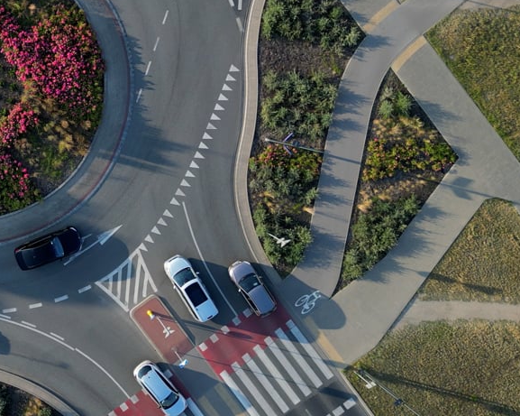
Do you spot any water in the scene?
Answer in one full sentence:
No, there is no water in the image.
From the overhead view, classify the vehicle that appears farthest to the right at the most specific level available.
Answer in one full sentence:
What you see as the vehicle that appears farthest to the right is an automobile.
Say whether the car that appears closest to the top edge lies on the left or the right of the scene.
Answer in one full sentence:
The car that appears closest to the top edge appears in the left half of the scene.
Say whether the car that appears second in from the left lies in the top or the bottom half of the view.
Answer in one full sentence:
It is in the bottom half that the car that appears second in from the left appears.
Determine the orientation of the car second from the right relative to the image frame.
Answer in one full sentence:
In this picture, the car second from the right is oriented diagonally.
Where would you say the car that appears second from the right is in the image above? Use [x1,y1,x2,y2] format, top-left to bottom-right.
[163,254,219,322]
